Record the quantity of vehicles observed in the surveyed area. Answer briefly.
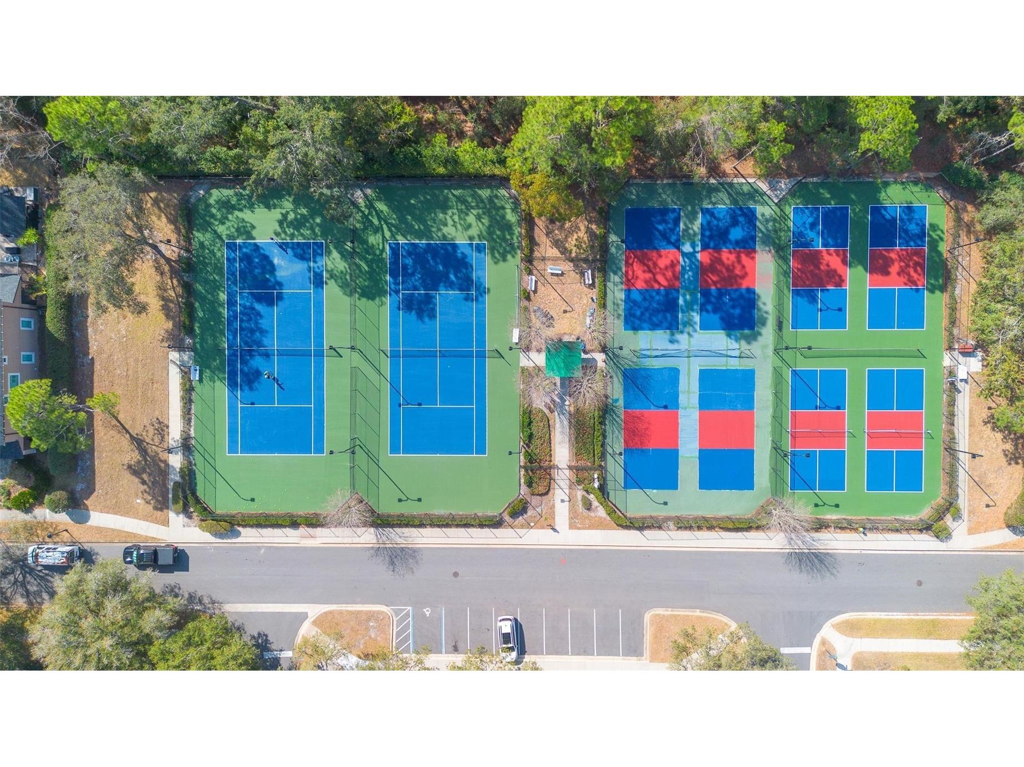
3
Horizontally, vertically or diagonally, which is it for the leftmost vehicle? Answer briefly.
horizontally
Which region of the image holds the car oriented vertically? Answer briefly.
bottom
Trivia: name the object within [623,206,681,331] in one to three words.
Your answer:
sports court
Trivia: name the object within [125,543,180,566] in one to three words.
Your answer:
truck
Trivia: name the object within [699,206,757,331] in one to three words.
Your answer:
sports court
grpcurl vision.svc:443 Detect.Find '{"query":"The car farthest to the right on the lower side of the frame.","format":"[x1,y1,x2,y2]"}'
[498,616,518,660]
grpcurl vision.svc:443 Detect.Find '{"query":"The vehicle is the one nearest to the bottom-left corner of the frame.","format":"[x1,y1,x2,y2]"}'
[32,543,83,565]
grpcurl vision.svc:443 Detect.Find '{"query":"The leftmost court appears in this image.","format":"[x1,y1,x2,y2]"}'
[193,187,358,514]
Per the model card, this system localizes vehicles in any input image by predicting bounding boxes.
[32,543,83,565]
[498,616,518,660]
[125,543,180,566]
